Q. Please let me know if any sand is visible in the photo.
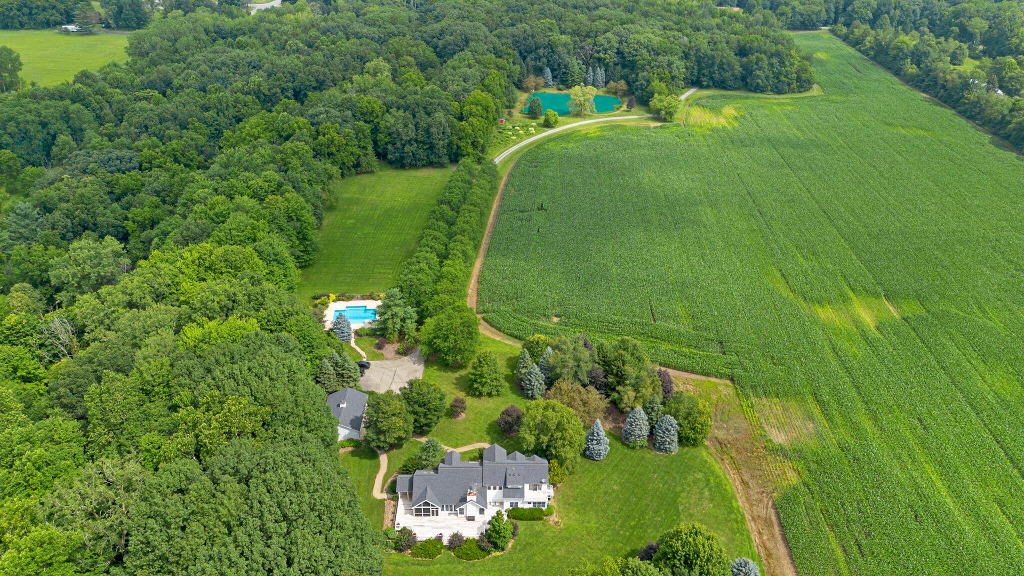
No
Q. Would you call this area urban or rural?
rural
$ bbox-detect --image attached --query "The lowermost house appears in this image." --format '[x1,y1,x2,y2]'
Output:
[394,442,556,545]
